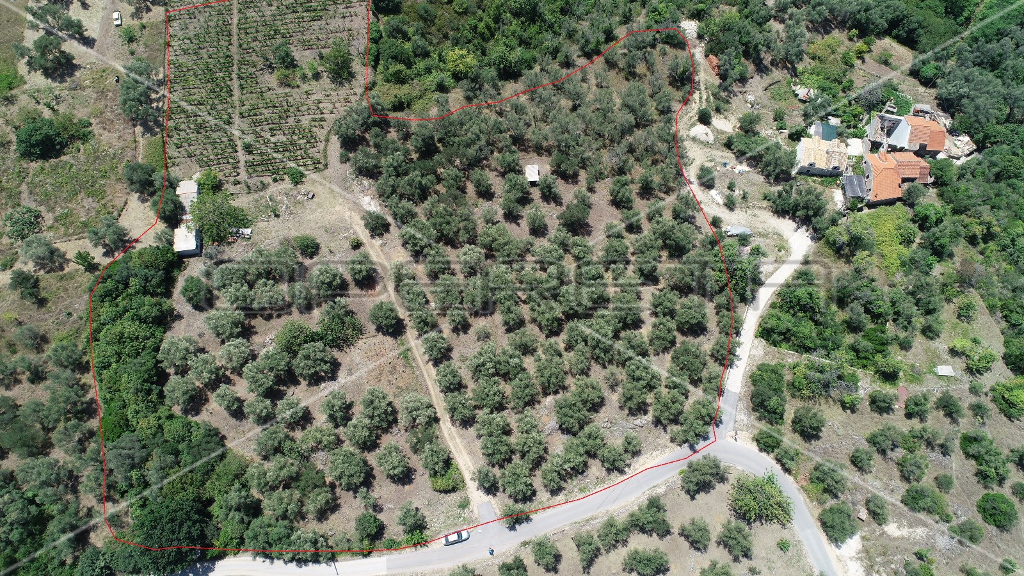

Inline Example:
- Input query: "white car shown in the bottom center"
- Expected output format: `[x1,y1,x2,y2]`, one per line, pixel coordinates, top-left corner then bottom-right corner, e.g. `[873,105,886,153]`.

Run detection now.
[442,530,470,547]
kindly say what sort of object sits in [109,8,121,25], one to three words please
vehicle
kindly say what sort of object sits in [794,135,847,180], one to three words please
house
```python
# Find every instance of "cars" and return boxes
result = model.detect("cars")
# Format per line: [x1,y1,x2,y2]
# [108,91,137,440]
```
[109,8,121,25]
[442,530,470,547]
